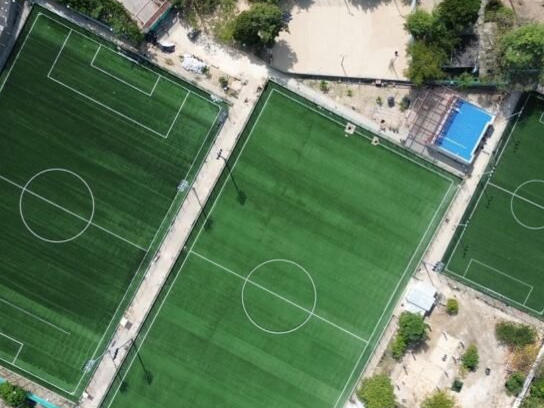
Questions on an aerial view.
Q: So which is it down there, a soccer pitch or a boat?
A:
soccer pitch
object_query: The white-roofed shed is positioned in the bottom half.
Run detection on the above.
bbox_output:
[405,280,438,311]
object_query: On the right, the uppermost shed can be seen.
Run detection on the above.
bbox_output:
[447,53,474,69]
